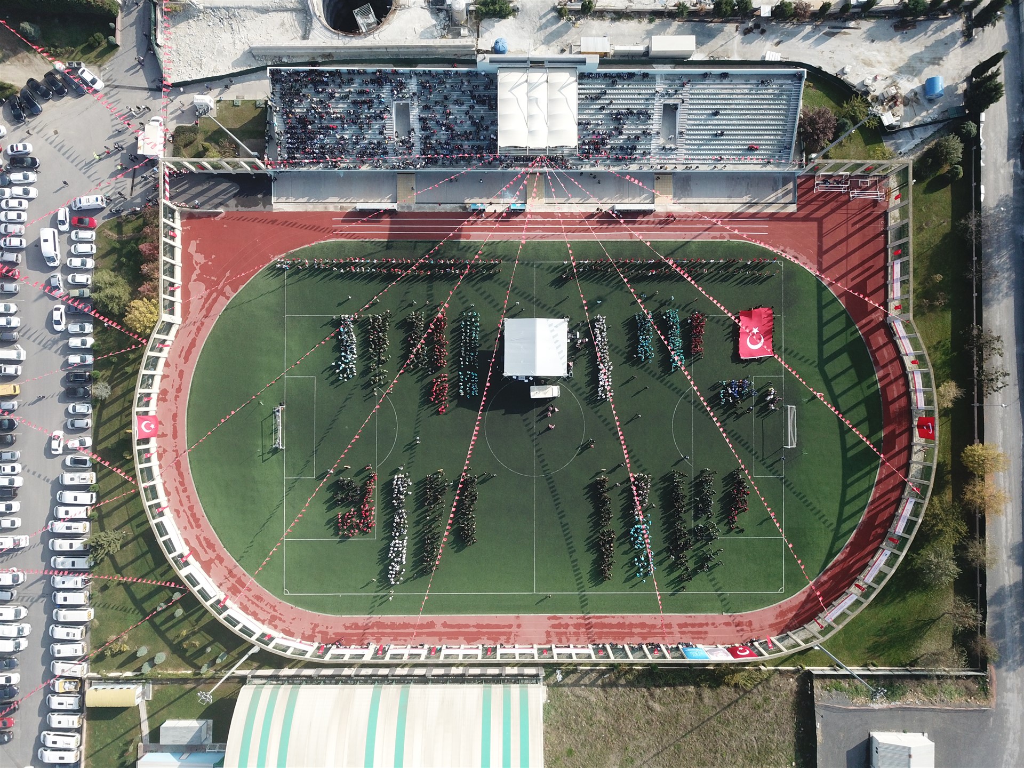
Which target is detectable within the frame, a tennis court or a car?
car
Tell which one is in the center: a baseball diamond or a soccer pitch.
soccer pitch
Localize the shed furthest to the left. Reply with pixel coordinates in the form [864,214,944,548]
[86,682,144,706]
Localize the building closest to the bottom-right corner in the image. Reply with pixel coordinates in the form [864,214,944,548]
[871,735,934,768]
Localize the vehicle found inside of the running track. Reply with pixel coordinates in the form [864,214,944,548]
[530,386,559,398]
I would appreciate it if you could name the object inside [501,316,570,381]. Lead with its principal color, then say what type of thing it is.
white tent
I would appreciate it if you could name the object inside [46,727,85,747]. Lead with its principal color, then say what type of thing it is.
white vehicle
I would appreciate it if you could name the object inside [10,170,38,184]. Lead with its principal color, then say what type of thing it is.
white car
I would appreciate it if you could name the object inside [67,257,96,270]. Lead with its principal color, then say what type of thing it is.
white vehicle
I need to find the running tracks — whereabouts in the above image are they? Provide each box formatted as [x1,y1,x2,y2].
[157,174,912,644]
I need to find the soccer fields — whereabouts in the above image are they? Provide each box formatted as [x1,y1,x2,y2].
[187,241,882,615]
